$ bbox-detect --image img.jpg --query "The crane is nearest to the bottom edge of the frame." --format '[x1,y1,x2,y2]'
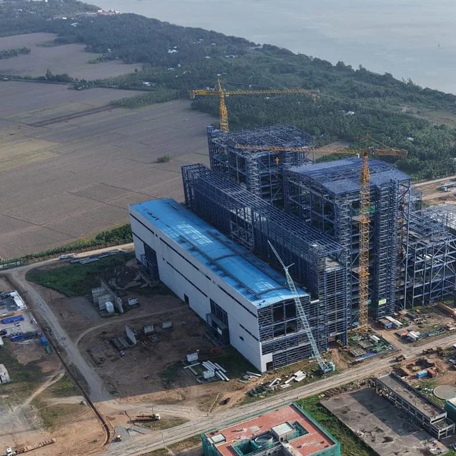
[266,239,338,370]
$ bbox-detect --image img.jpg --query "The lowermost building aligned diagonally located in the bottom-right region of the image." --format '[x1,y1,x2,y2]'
[375,372,456,440]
